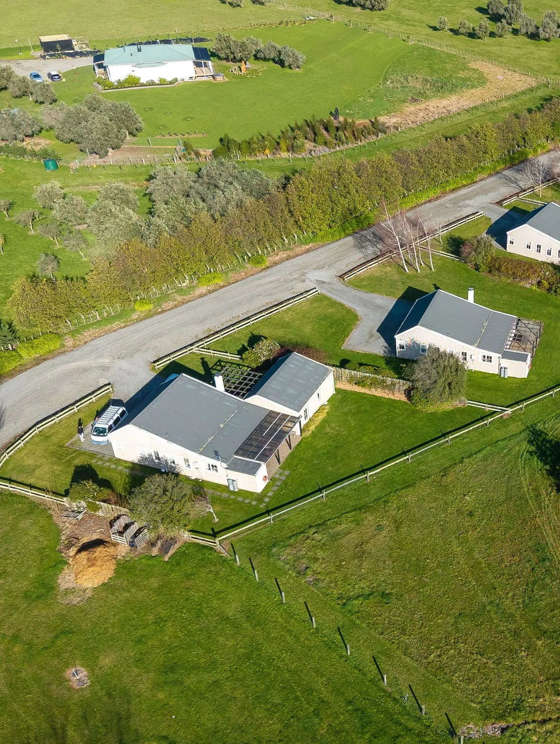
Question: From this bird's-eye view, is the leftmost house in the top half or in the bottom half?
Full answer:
The leftmost house sits in the top half of the picture.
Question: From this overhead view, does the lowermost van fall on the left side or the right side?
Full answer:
The lowermost van appears in the left half of the scene.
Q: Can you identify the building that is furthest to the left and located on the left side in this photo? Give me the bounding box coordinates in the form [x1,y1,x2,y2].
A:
[94,43,215,82]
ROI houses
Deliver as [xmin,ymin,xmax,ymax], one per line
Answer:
[107,352,334,492]
[507,201,560,263]
[394,283,546,378]
[94,43,215,82]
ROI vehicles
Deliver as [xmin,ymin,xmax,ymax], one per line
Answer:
[89,403,128,445]
[31,69,43,81]
[47,69,60,81]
